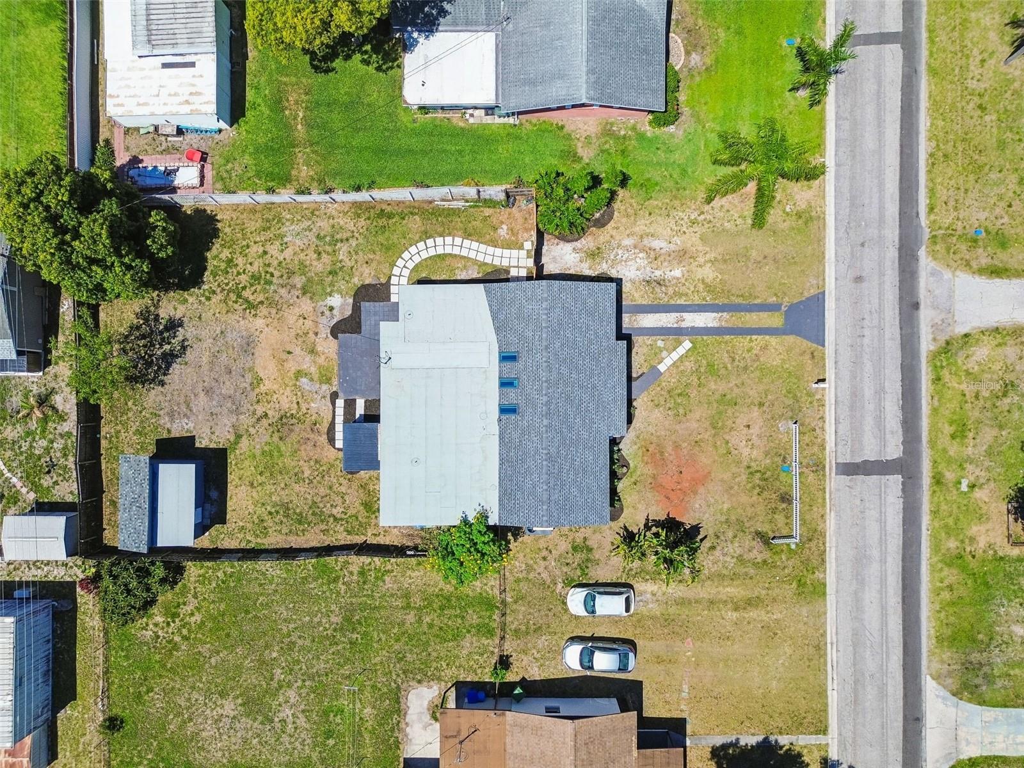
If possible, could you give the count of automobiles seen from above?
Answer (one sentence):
The number of automobiles here is 2.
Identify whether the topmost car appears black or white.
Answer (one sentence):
From above, the topmost car appears white.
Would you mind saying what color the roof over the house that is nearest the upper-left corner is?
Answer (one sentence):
The color of the roof on the house that is nearest the upper-left corner is white.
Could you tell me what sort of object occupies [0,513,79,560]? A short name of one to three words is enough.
shed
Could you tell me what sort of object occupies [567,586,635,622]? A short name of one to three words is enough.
car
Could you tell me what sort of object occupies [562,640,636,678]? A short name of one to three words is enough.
car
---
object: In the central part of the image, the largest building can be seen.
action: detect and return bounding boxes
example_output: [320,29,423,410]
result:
[343,280,628,528]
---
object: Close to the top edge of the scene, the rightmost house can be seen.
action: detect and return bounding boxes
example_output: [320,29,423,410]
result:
[392,0,666,119]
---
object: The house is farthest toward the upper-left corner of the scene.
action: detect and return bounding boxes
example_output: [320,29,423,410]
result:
[104,0,240,127]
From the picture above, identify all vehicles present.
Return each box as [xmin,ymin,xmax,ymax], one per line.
[562,640,636,678]
[567,586,635,622]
